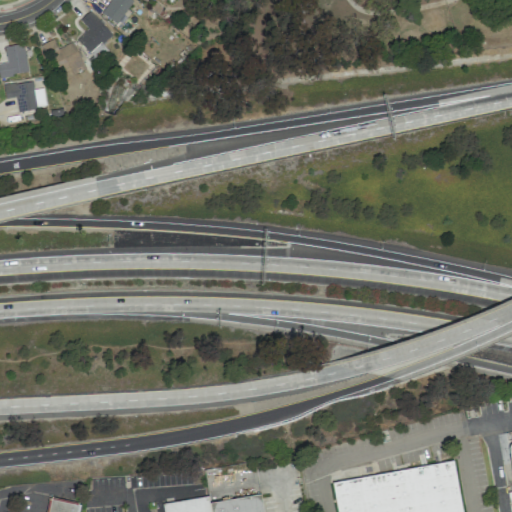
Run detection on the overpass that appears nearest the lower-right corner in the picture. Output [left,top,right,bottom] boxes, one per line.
[325,299,512,388]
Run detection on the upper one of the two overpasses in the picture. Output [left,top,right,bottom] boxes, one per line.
[0,176,96,221]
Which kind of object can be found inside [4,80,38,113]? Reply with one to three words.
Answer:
house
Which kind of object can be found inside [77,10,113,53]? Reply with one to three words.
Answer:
house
